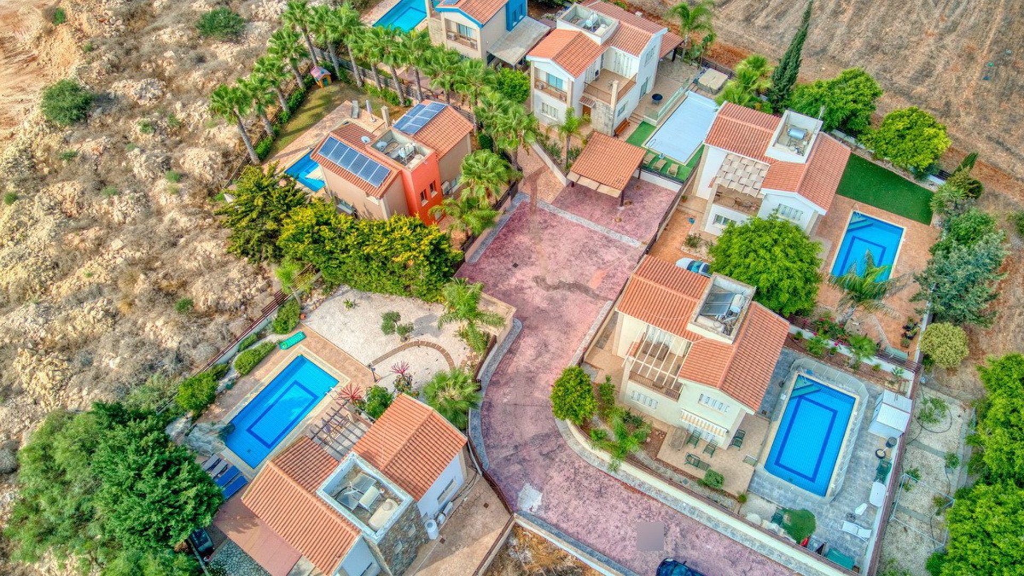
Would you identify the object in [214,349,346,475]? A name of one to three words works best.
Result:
swimming pool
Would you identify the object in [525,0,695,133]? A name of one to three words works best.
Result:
house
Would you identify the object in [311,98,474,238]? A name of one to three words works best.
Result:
house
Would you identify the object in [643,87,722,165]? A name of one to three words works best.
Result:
swimming pool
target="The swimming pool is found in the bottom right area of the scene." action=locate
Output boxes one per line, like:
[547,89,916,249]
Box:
[759,370,861,502]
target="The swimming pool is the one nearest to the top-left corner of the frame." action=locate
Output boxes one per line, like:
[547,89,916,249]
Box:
[281,138,331,199]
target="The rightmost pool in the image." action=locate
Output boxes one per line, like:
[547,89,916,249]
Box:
[828,209,907,284]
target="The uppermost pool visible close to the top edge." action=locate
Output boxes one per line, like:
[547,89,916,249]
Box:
[369,0,444,44]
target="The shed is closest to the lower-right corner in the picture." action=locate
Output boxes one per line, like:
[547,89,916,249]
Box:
[868,393,913,439]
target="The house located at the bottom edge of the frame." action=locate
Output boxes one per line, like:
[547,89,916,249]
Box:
[240,393,468,576]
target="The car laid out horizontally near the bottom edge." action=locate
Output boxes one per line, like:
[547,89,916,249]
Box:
[650,553,706,576]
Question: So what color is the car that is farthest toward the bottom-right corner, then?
blue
